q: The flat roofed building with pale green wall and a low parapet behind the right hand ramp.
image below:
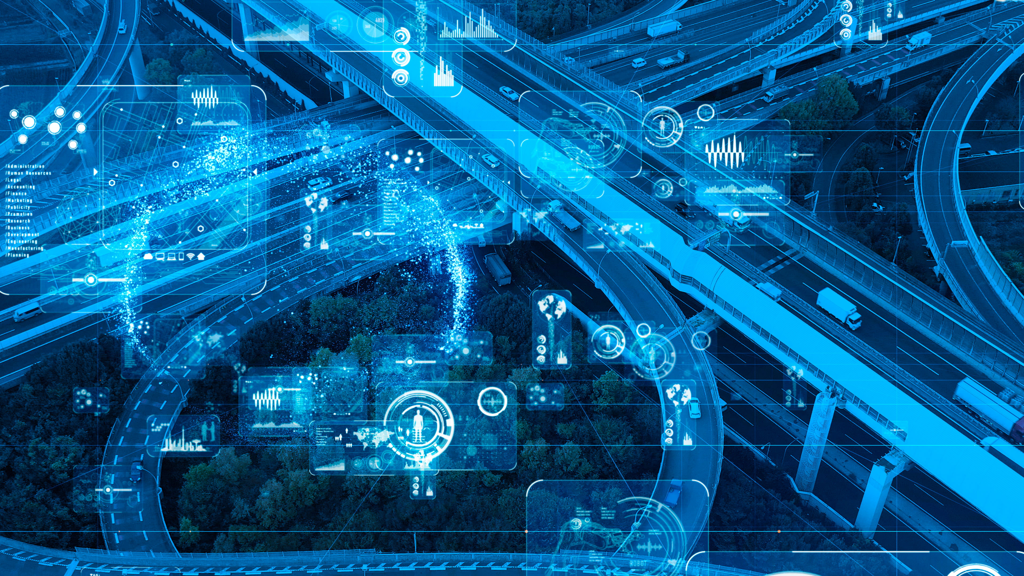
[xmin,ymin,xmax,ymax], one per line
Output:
[957,151,1024,210]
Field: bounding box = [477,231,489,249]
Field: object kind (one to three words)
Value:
vehicle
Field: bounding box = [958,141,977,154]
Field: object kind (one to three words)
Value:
vehicle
